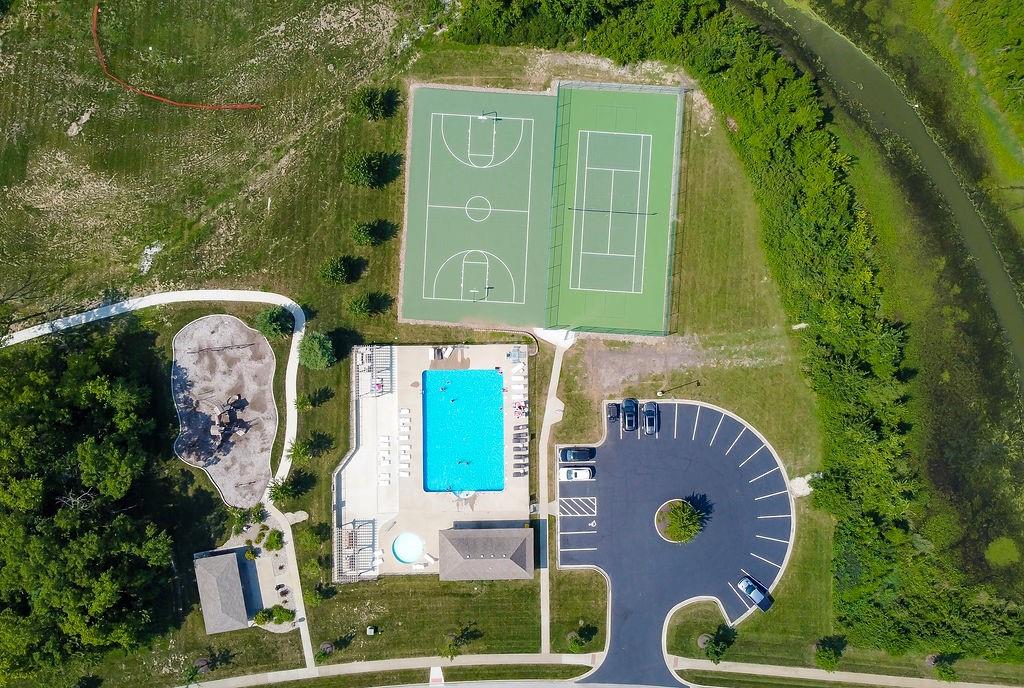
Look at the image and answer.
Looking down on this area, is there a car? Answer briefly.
Yes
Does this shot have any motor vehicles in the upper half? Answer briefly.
No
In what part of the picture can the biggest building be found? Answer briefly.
bottom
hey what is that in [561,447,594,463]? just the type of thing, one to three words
car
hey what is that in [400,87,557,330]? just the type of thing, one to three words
basketball court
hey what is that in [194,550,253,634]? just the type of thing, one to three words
building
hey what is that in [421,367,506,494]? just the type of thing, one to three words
swimming pool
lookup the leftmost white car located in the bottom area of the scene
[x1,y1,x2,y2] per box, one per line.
[560,466,592,482]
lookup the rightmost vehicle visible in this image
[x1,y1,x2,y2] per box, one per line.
[738,573,773,613]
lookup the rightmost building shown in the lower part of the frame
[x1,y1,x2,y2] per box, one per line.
[440,527,534,581]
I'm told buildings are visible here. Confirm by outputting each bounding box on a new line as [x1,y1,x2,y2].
[194,550,253,634]
[440,527,534,581]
